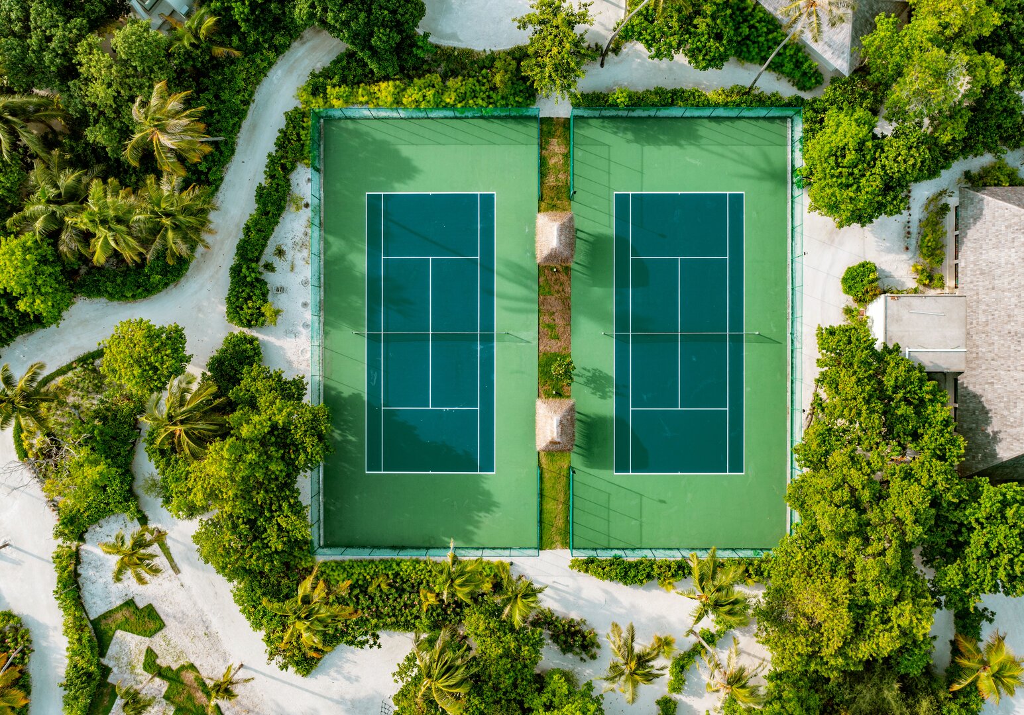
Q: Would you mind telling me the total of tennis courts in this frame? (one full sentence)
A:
The picture shows 2 tennis courts.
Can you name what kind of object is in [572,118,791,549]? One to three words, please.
tennis court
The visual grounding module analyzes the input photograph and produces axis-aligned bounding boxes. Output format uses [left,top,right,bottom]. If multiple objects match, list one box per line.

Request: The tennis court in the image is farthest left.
[321,118,539,549]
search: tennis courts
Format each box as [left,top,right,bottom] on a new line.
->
[321,118,539,549]
[572,118,791,549]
